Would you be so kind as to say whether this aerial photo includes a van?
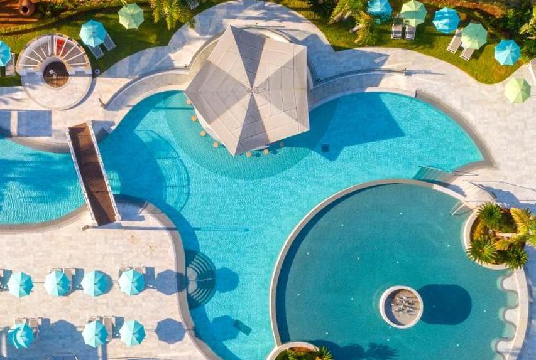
No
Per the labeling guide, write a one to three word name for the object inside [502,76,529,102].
umbrella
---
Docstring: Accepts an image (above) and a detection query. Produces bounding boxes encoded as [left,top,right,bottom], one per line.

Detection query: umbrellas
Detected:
[502,76,529,102]
[431,8,457,34]
[401,0,425,25]
[492,40,520,66]
[366,0,391,22]
[84,269,108,294]
[81,21,107,47]
[46,269,71,294]
[118,267,145,294]
[119,320,145,346]
[8,269,35,296]
[82,320,110,347]
[8,322,35,348]
[461,25,485,49]
[118,2,145,29]
[0,42,11,67]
